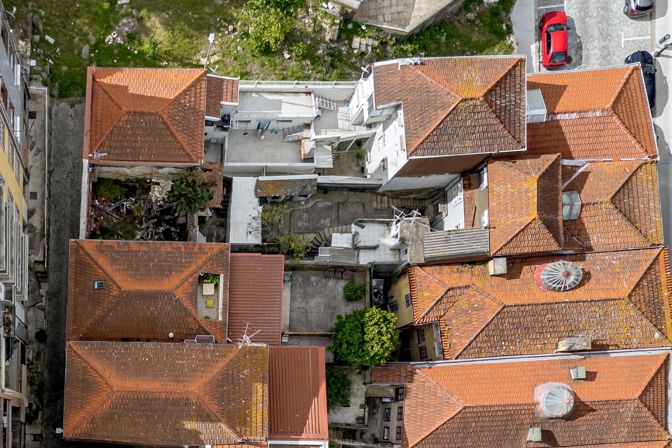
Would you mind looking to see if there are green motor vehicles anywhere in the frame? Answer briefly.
No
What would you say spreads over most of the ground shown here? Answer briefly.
buildings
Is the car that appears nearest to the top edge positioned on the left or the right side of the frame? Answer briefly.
right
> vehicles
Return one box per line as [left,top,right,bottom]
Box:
[626,56,659,115]
[538,16,569,70]
[622,0,656,23]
